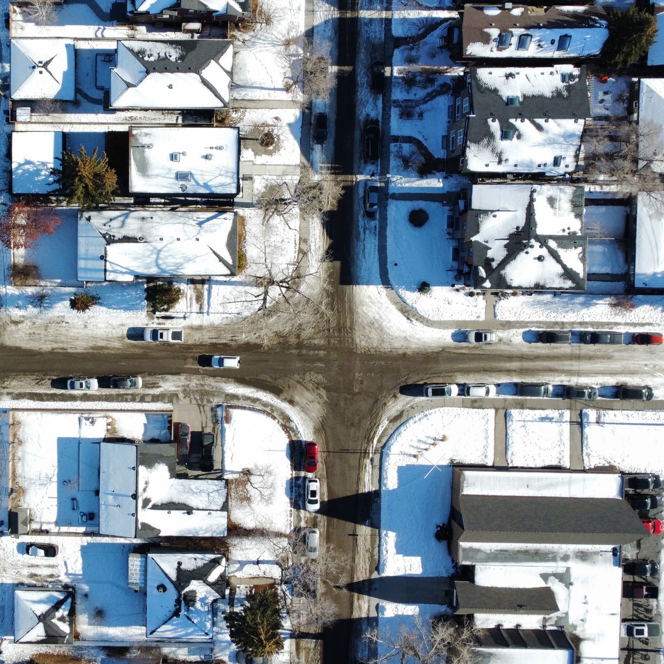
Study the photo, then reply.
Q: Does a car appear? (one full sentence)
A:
Yes, there is a car in the image.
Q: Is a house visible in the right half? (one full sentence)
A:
Yes, in the right half there is a house.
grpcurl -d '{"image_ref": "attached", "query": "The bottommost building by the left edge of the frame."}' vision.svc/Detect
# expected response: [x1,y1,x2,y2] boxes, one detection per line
[14,585,74,643]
